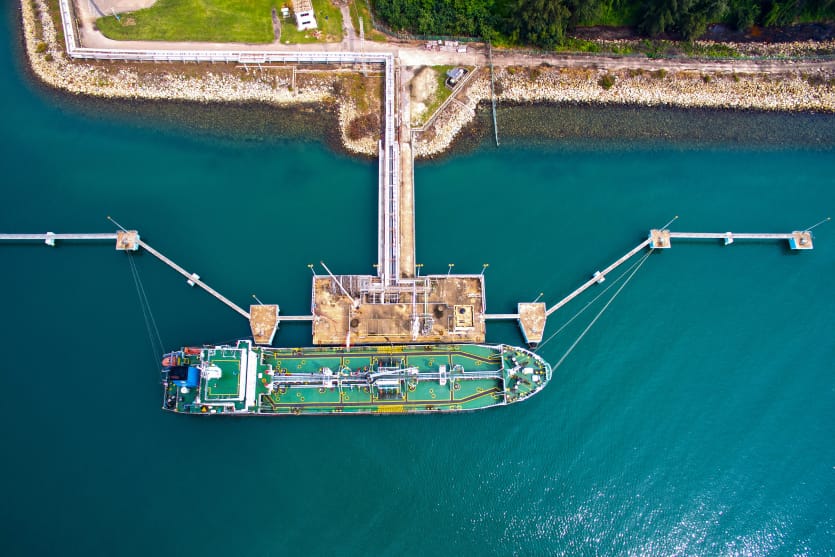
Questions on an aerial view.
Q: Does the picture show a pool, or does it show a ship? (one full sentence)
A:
Looking from above, you can make out a ship.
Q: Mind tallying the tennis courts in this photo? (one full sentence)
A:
I count no tennis courts.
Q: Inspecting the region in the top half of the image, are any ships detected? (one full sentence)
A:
No, I see no ship in the top half of the image.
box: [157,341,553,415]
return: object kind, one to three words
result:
ship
